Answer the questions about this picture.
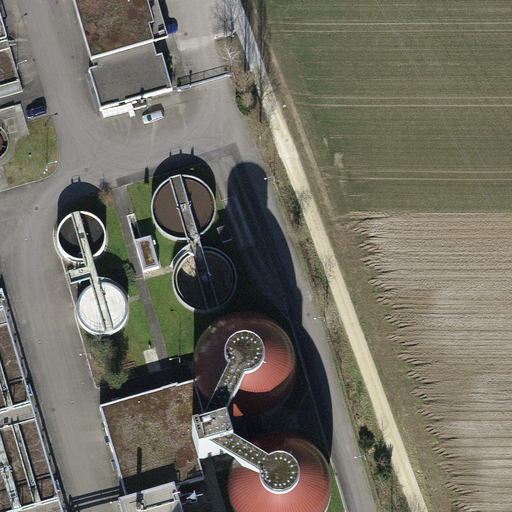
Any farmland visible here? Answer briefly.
Yes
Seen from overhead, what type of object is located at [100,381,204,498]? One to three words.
building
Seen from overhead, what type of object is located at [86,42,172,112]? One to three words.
building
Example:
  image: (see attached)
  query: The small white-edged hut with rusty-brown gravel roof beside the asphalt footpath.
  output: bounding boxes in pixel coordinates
[136,235,159,272]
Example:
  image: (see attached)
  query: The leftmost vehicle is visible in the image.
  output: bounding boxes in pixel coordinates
[26,106,47,120]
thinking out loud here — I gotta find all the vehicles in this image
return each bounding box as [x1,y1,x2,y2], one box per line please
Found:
[142,110,165,124]
[26,106,47,120]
